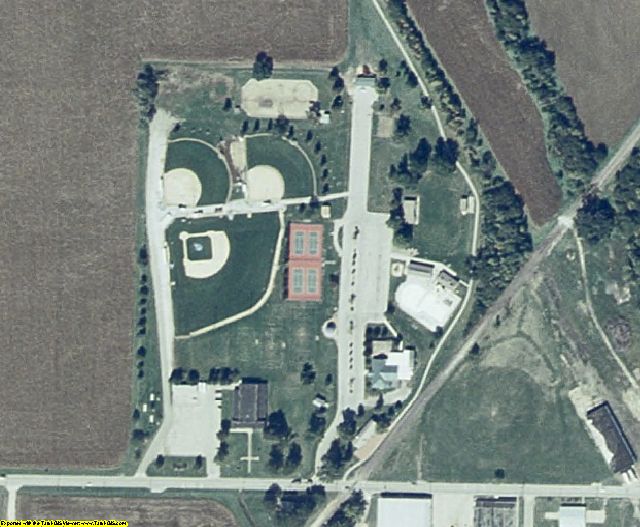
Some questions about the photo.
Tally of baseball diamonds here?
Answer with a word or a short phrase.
3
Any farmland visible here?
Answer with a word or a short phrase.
Yes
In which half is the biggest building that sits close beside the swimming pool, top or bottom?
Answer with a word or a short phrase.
bottom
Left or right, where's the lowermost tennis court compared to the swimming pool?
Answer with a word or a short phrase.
on the left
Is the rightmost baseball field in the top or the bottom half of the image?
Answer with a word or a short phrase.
top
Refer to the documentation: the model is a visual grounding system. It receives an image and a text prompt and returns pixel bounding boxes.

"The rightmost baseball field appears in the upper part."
[231,133,317,202]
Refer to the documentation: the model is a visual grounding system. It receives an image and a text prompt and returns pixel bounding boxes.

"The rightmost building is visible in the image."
[586,403,637,473]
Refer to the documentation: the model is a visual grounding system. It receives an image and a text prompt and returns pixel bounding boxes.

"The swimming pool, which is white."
[395,263,461,331]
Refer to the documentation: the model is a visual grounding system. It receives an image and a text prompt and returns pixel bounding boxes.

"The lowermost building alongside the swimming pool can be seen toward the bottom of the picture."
[372,341,414,390]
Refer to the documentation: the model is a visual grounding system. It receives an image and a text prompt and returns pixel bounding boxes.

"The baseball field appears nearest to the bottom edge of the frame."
[168,206,285,338]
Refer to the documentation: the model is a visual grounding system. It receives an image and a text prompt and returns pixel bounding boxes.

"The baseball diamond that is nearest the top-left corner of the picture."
[163,138,233,206]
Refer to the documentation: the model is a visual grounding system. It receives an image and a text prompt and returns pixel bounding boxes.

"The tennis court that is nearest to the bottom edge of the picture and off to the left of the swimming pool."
[288,260,322,300]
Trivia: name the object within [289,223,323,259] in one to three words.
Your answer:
tennis court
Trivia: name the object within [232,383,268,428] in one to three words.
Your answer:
building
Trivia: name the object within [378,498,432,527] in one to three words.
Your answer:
building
